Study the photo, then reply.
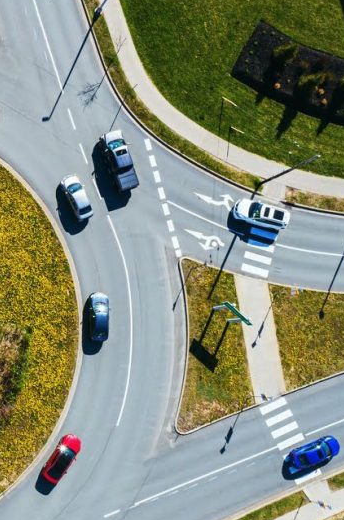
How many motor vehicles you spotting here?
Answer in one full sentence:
Looking from above, you can make out 6 motor vehicles.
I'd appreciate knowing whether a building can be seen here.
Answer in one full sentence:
No, no building is visible in the scene.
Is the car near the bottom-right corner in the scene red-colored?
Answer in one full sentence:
No, the color of the car near the bottom-right corner is blue.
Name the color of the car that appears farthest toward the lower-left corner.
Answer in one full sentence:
The car that appears farthest toward the lower-left corner is red.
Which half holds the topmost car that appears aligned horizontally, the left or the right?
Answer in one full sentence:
The topmost car that appears aligned horizontally is on the right side of the image.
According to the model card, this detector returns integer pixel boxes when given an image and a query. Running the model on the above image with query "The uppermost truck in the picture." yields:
[103,132,139,191]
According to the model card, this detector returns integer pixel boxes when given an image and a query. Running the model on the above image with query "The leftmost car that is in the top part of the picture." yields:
[60,177,93,222]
